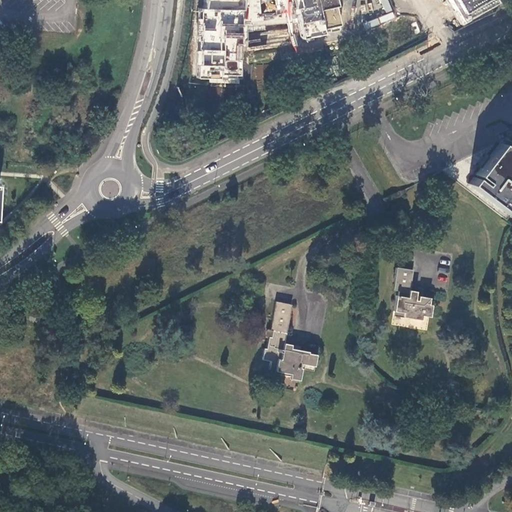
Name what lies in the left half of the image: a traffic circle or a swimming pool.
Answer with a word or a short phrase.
traffic circle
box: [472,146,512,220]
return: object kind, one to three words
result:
building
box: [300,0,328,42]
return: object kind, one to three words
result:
building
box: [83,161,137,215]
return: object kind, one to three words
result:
roundabout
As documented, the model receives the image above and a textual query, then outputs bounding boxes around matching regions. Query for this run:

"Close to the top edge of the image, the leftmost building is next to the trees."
[197,0,244,82]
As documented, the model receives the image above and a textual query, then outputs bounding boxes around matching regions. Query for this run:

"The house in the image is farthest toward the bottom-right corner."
[391,290,434,331]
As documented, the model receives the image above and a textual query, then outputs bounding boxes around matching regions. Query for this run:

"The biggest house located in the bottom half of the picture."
[263,302,318,382]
